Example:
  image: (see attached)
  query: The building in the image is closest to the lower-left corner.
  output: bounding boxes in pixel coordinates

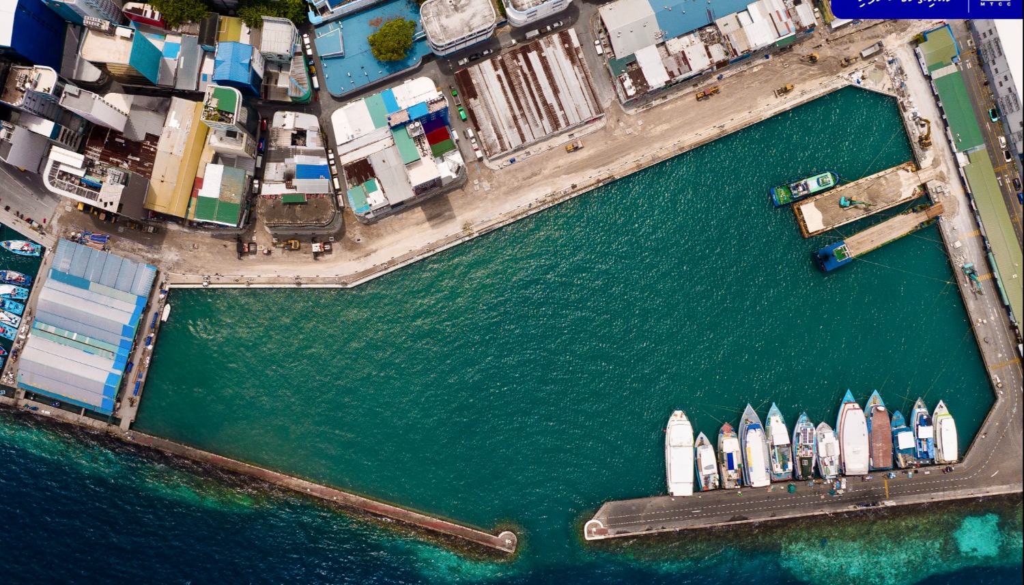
[17,238,160,418]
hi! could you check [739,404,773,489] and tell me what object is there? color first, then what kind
white boat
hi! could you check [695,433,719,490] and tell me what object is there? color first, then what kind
white boat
